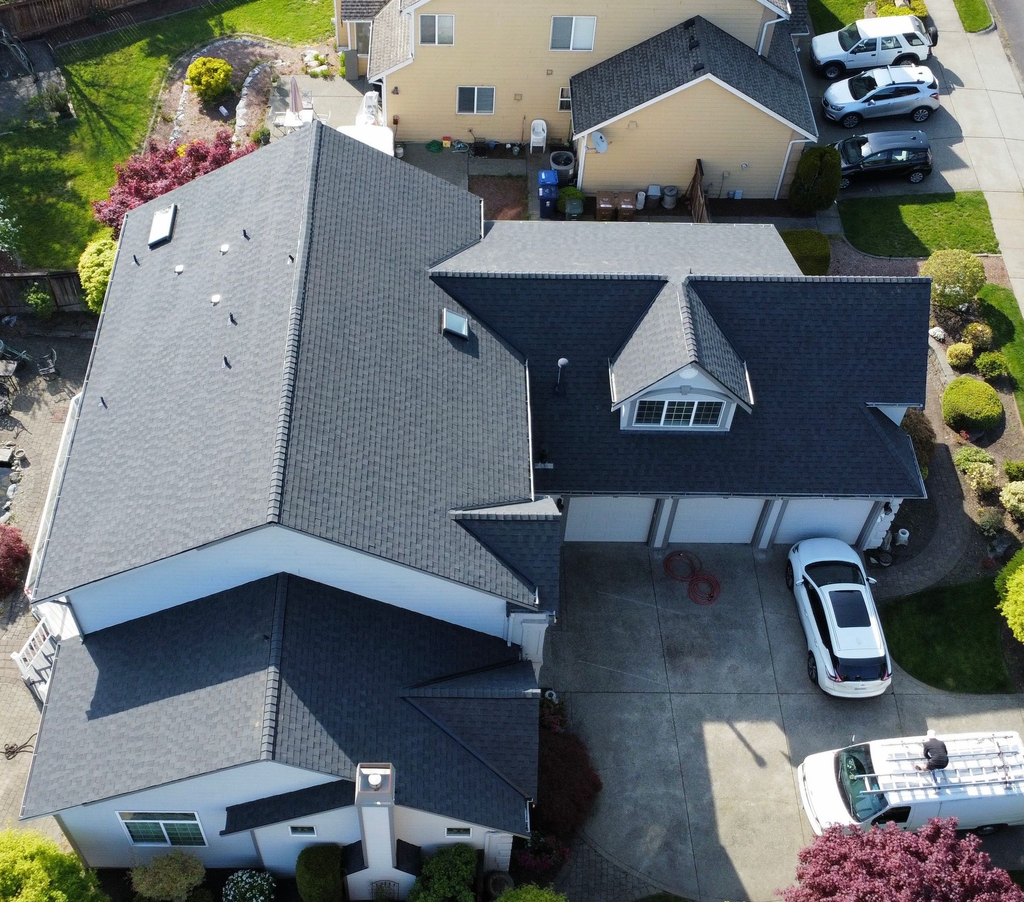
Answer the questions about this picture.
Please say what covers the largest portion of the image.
buildings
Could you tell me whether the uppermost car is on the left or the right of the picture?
right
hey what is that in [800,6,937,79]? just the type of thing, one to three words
car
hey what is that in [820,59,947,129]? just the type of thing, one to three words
car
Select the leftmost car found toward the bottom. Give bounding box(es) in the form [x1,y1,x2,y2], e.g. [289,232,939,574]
[790,545,897,710]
